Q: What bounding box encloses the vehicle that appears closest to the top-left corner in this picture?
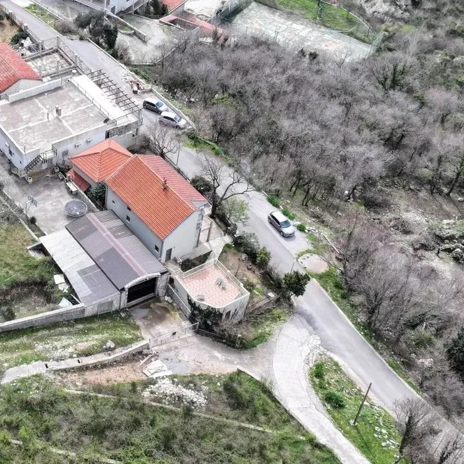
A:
[142,95,170,112]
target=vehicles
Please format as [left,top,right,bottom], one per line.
[157,108,188,127]
[268,210,298,236]
[142,95,170,112]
